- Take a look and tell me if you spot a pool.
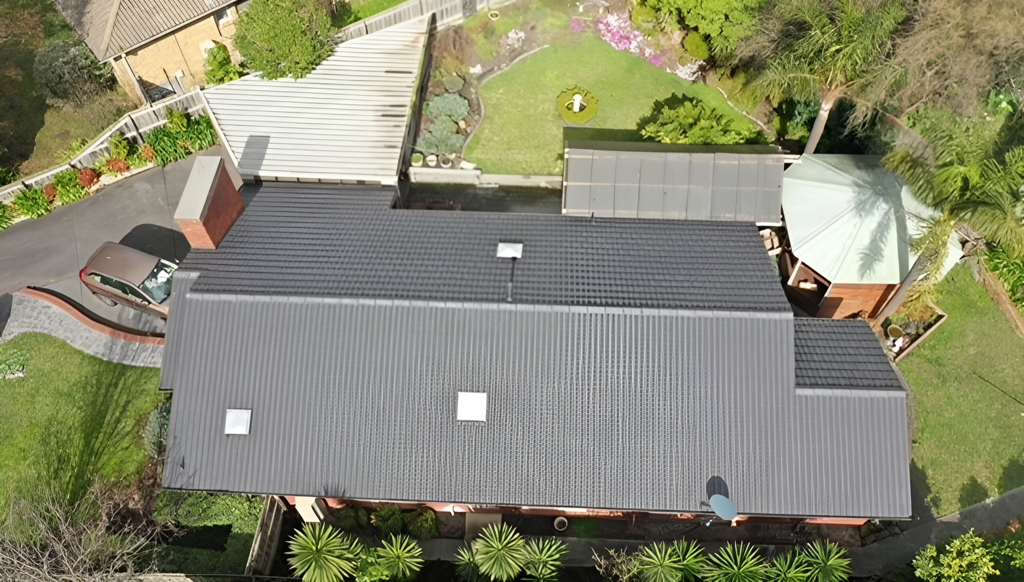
No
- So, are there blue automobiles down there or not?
No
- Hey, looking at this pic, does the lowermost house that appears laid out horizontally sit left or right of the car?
to its right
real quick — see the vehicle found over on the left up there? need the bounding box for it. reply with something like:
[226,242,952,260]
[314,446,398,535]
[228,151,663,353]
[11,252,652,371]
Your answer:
[78,237,178,319]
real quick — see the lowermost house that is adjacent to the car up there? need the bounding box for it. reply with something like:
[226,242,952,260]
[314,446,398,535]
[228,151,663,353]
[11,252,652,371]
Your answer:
[155,155,914,525]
